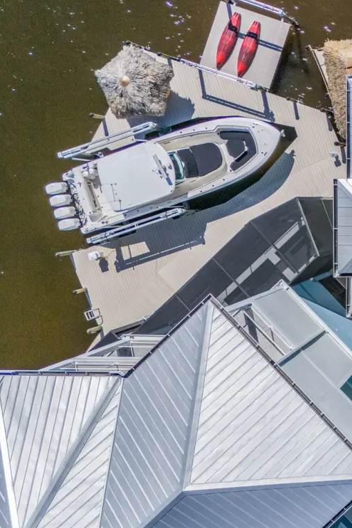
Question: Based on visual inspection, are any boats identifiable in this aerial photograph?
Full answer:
Yes, a boat is visible in the scene.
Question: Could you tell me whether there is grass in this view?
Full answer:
No, grass can't be seen anywhere here.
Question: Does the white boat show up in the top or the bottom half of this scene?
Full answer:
The white boat is in the top half of the image.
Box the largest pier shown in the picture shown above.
[53,36,344,342]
